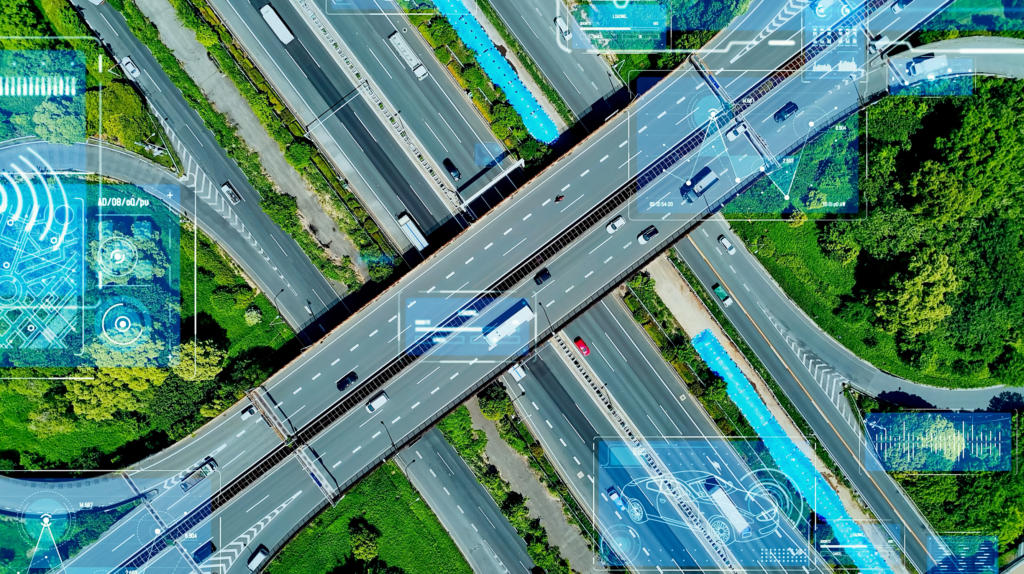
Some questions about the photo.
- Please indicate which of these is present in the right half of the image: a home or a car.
car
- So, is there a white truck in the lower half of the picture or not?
Yes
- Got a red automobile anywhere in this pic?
Yes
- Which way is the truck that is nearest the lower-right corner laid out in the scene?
diagonally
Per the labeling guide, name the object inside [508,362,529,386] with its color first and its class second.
white truck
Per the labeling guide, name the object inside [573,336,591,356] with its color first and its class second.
red car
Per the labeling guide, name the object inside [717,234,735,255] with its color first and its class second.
white car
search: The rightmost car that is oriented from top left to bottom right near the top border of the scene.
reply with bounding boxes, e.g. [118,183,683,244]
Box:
[554,16,572,40]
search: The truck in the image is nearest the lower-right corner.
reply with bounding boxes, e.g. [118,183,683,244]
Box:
[707,480,752,536]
